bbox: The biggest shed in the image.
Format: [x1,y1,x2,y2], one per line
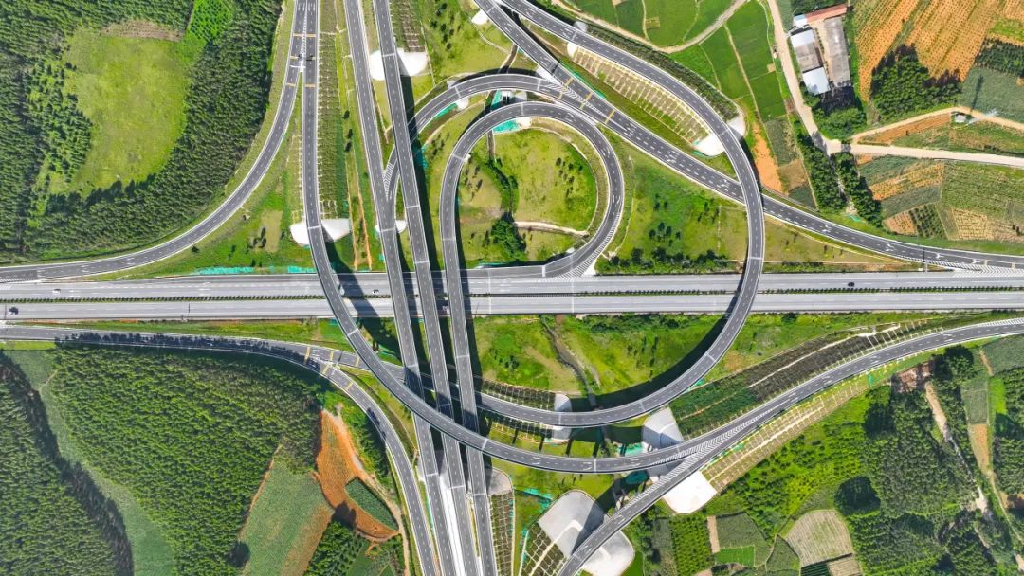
[823,17,850,86]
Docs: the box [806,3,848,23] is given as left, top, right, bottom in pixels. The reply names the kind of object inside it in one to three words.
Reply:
shed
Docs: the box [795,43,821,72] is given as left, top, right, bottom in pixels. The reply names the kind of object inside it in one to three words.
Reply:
shed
